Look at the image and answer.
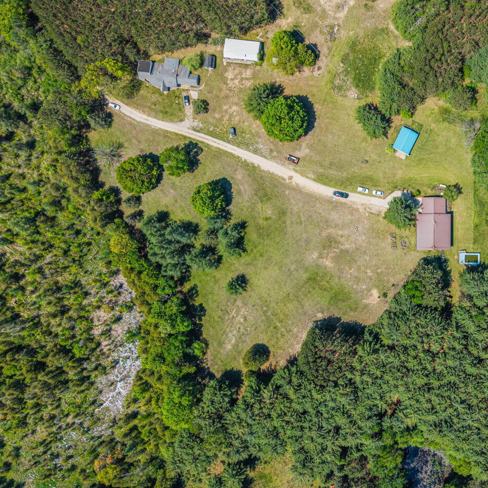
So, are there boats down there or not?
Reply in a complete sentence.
No, the picture doesn't show any boat.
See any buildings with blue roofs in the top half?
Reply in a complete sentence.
Yes, a building with a blue roof is visible in the top half.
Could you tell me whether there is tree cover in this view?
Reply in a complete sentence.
Yes, there is tree cover in the image.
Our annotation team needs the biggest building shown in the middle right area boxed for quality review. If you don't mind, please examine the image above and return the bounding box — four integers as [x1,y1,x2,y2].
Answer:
[416,196,452,250]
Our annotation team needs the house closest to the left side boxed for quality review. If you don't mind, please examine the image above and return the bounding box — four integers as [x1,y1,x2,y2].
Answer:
[138,55,204,97]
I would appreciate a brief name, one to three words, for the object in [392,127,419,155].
building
